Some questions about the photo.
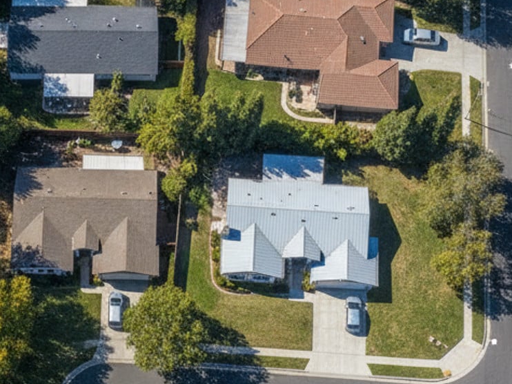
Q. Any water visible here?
No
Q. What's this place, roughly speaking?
residential area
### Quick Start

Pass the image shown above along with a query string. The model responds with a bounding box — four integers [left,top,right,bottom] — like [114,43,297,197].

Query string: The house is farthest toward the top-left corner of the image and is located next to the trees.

[0,0,158,104]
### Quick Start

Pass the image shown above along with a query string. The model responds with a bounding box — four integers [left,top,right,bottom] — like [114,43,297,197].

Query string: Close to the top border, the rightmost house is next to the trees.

[220,0,399,114]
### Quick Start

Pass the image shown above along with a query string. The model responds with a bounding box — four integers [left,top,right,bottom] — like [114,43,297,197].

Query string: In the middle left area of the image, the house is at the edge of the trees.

[11,154,158,280]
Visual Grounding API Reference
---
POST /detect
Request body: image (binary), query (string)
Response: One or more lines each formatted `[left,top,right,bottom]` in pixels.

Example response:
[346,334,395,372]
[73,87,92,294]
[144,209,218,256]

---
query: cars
[106,291,124,330]
[344,296,362,334]
[403,29,440,45]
